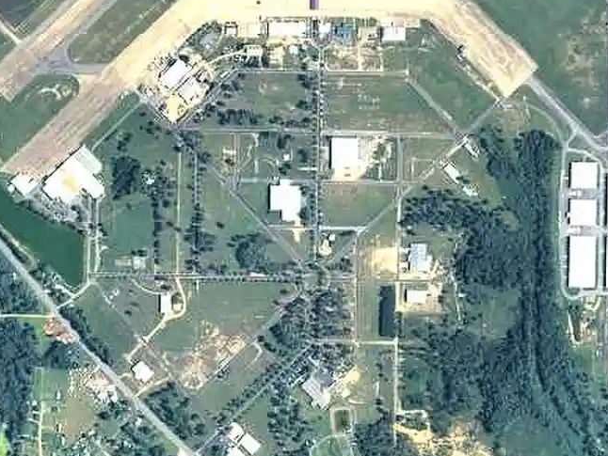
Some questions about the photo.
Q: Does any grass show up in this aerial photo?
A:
Yes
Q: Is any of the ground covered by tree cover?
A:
Yes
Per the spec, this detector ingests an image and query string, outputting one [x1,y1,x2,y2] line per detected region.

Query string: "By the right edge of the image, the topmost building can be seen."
[570,162,597,188]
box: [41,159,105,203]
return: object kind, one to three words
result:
building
